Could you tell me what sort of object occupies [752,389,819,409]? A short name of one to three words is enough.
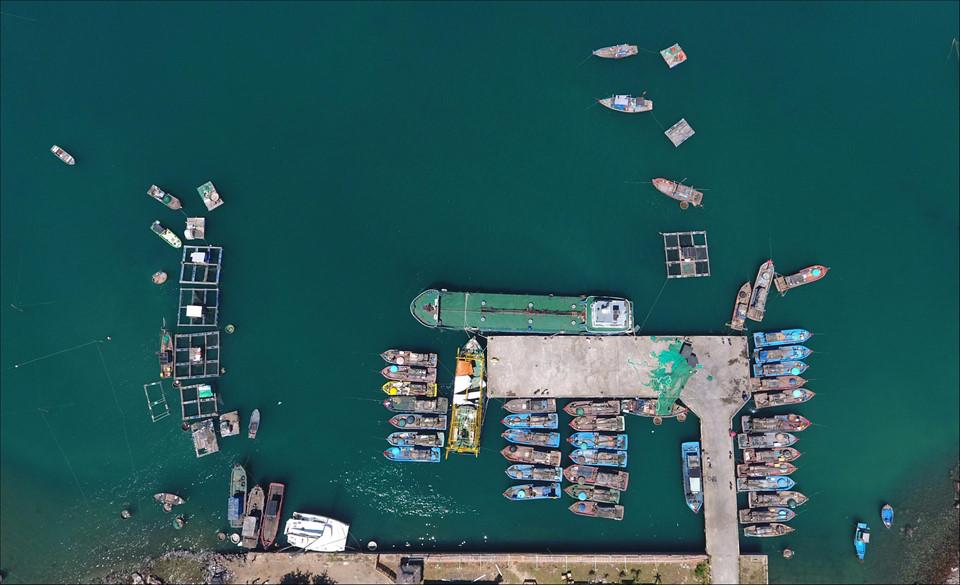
boat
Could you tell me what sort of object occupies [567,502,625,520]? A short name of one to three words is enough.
boat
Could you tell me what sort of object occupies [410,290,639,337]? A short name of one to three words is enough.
ship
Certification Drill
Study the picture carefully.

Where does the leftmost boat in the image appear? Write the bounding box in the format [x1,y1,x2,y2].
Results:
[50,145,75,163]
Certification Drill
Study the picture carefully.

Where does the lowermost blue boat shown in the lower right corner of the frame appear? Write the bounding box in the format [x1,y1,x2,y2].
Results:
[854,522,871,566]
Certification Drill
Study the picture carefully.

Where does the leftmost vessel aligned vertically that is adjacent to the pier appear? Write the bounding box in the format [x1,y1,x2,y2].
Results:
[445,337,485,458]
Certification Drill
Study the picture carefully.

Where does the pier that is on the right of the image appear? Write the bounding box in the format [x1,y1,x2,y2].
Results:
[488,335,751,585]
